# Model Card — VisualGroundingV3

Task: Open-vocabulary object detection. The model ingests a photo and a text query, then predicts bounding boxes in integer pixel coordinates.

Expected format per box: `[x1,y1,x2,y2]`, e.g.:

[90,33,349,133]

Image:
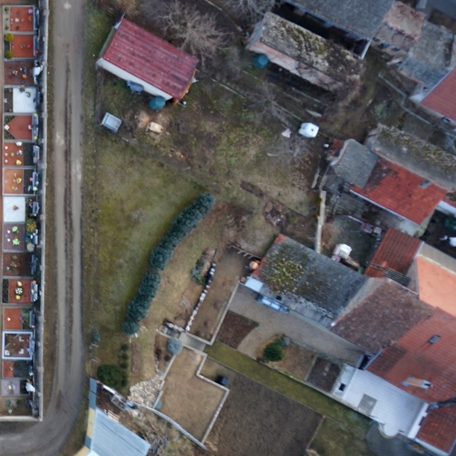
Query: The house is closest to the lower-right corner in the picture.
[399,400,456,456]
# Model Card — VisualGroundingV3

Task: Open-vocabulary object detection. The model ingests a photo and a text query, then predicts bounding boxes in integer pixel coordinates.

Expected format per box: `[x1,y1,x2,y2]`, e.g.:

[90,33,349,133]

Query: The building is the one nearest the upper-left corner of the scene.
[97,19,198,103]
